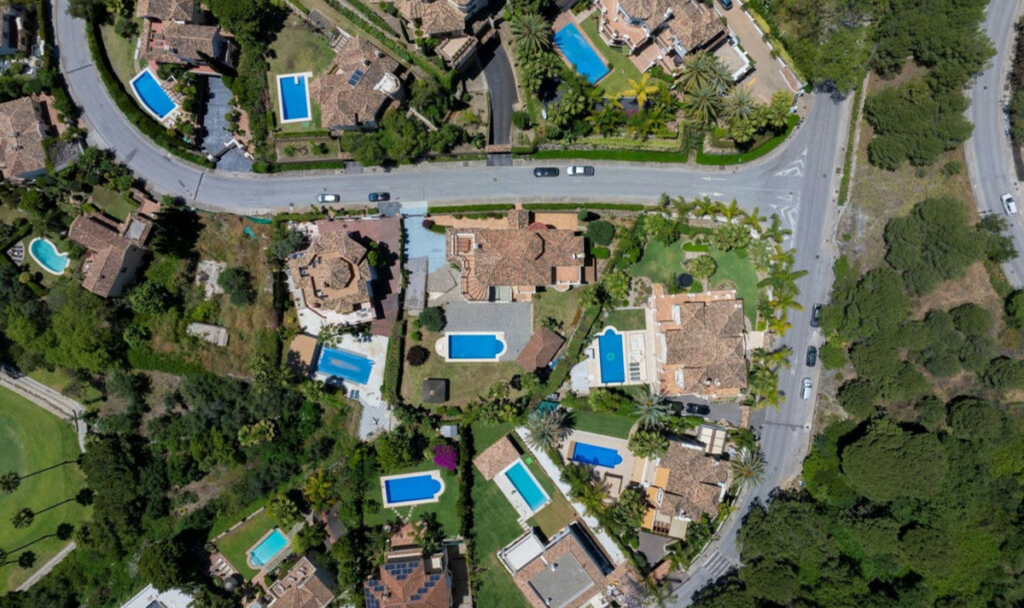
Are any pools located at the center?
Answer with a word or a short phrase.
Yes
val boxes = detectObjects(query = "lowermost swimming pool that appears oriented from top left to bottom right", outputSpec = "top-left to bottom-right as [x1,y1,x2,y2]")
[503,460,549,514]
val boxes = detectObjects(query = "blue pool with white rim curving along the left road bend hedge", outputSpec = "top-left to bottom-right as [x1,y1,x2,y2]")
[128,66,180,121]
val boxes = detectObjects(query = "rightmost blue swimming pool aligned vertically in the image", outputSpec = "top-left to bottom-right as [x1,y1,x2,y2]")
[596,326,627,386]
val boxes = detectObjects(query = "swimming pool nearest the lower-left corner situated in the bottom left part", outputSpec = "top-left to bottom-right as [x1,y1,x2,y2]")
[248,527,289,569]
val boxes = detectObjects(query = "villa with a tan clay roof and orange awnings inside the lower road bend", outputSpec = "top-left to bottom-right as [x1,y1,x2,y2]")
[638,437,730,540]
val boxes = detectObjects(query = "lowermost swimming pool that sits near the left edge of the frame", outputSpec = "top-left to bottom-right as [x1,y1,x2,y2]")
[29,237,69,275]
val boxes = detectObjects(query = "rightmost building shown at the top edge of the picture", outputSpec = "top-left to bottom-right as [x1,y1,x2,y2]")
[592,0,753,83]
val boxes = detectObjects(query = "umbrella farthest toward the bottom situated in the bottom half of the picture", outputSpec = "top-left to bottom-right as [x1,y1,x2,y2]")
[221,580,236,594]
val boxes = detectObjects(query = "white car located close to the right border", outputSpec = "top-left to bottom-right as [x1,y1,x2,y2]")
[999,192,1016,216]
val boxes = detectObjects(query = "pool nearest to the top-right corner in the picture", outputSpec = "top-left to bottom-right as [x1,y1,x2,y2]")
[553,21,611,86]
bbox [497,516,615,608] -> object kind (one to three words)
house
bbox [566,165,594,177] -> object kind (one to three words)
vehicle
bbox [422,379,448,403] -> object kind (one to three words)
building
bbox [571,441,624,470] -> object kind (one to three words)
swimming pool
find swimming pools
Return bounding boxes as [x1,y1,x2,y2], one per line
[553,21,611,86]
[445,331,508,363]
[248,527,289,569]
[596,326,627,386]
[128,66,180,121]
[571,441,624,470]
[381,470,445,508]
[29,237,69,275]
[503,460,549,514]
[276,73,311,123]
[316,346,375,387]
